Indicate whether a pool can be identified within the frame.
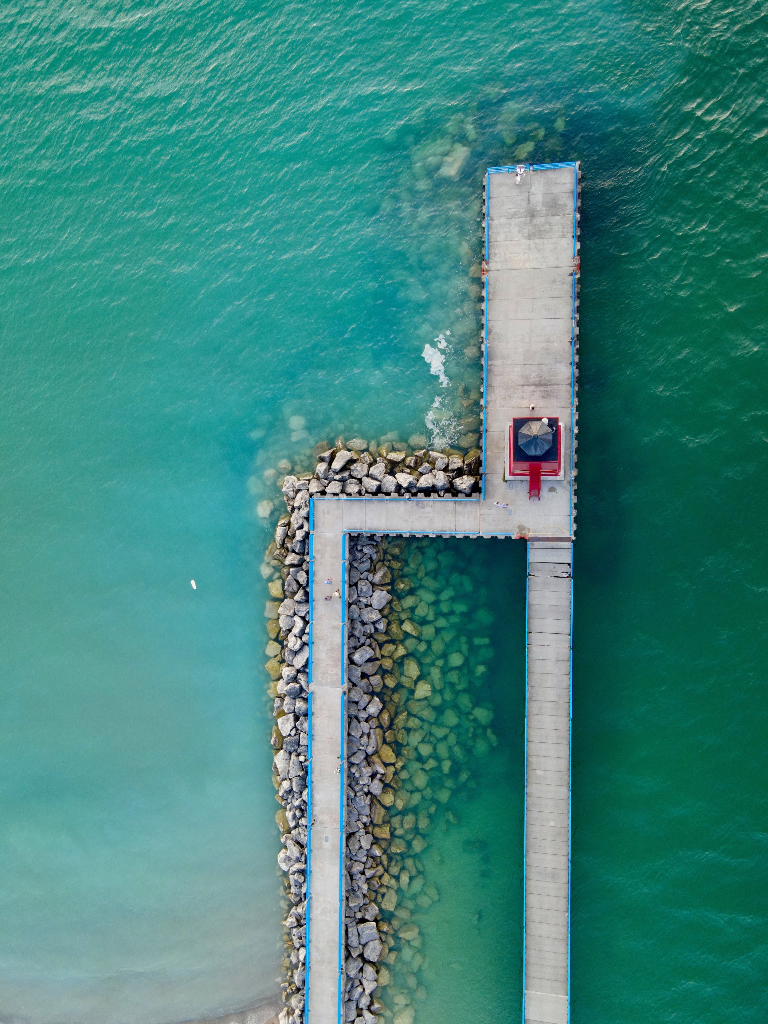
No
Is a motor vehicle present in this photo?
No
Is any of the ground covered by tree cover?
No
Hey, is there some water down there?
Yes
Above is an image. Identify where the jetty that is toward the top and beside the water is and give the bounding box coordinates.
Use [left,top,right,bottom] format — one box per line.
[479,162,580,540]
